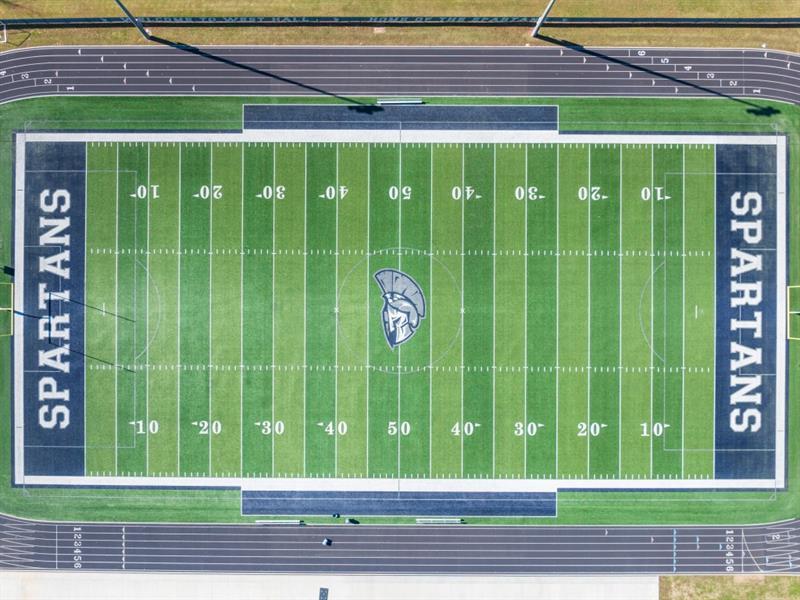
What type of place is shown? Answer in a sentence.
The picture captures a sports ground.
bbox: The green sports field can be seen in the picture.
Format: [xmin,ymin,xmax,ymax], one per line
[11,103,790,517]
